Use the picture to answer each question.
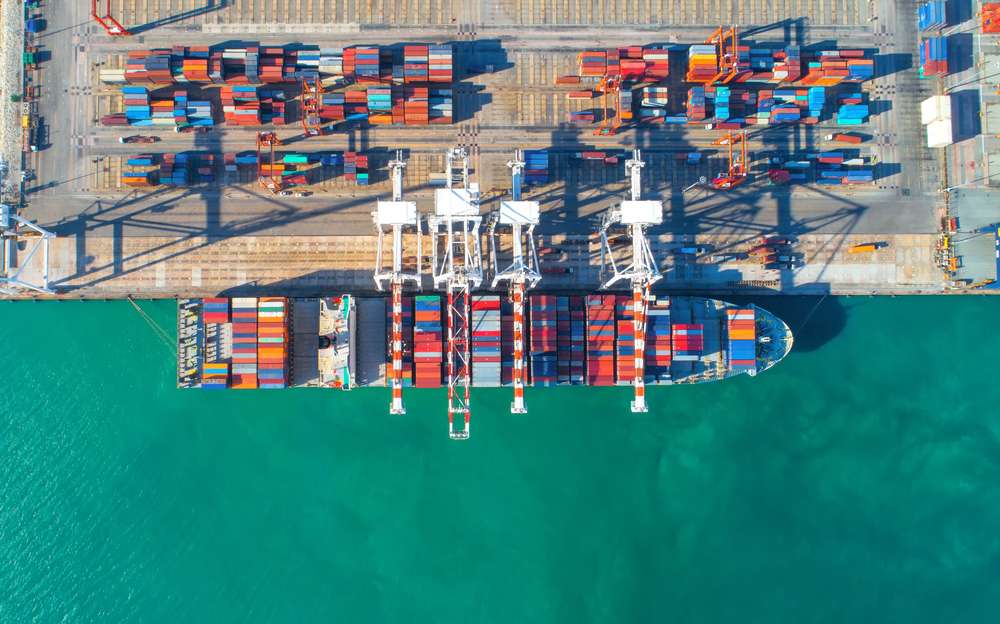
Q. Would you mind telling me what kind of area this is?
port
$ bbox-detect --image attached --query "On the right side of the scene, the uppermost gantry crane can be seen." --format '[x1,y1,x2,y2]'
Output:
[701,22,739,87]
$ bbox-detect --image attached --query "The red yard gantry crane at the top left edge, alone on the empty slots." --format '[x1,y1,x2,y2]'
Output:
[91,0,131,37]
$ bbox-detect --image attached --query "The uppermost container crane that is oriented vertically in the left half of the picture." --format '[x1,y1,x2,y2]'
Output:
[298,74,327,139]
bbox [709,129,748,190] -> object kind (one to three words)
container crane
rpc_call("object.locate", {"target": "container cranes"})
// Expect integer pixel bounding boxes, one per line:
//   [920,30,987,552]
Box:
[366,152,428,412]
[591,73,623,137]
[425,144,486,439]
[709,129,748,190]
[482,152,543,412]
[256,130,287,192]
[298,74,327,139]
[589,152,663,411]
[701,22,739,87]
[91,0,131,37]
